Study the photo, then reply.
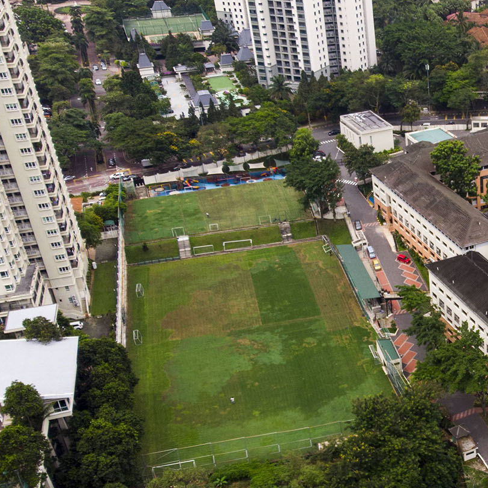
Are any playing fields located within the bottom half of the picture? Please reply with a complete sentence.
Yes, a playing field can be seen within the bottom half of the picture.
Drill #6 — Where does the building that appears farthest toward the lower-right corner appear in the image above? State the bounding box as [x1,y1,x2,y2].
[455,437,486,463]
